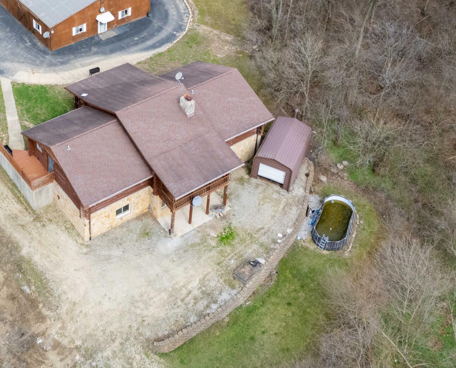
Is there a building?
Yes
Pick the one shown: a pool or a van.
pool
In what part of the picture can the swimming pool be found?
right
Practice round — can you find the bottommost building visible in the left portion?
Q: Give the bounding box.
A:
[22,60,275,248]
